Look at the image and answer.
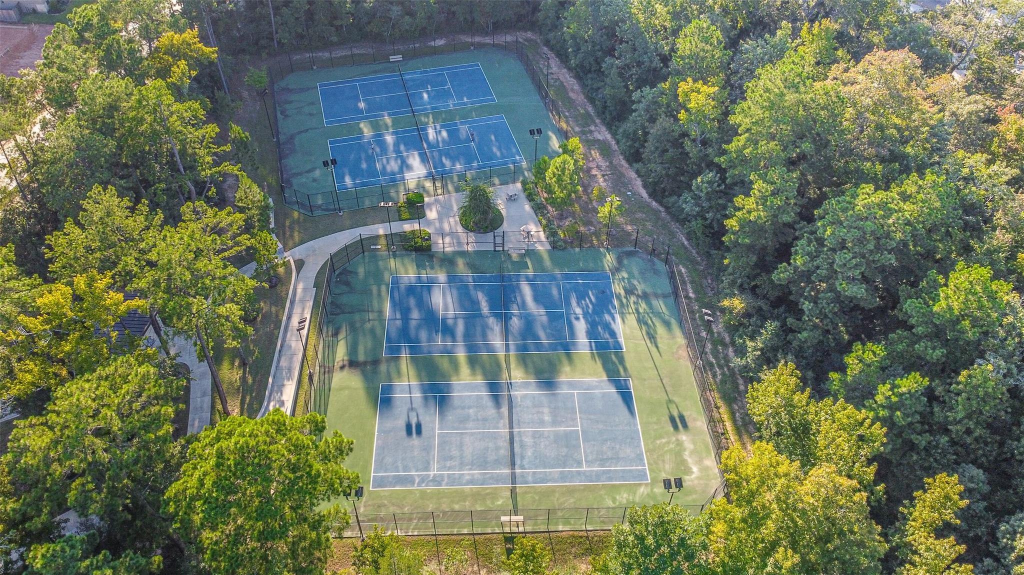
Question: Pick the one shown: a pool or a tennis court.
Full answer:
Of the two, only a tennis court appears.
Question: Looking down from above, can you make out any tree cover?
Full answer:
Yes, the picture does contain tree cover.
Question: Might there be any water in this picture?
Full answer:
No, there's no water in this view.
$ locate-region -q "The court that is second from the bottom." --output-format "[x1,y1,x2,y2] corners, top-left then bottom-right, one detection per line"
[313,247,694,371]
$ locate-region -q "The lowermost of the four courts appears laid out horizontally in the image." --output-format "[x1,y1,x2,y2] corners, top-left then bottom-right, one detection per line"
[292,363,727,539]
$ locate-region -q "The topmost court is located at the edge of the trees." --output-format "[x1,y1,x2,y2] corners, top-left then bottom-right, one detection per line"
[270,46,544,140]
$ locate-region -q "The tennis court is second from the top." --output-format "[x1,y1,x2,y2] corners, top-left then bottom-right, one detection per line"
[275,102,576,219]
